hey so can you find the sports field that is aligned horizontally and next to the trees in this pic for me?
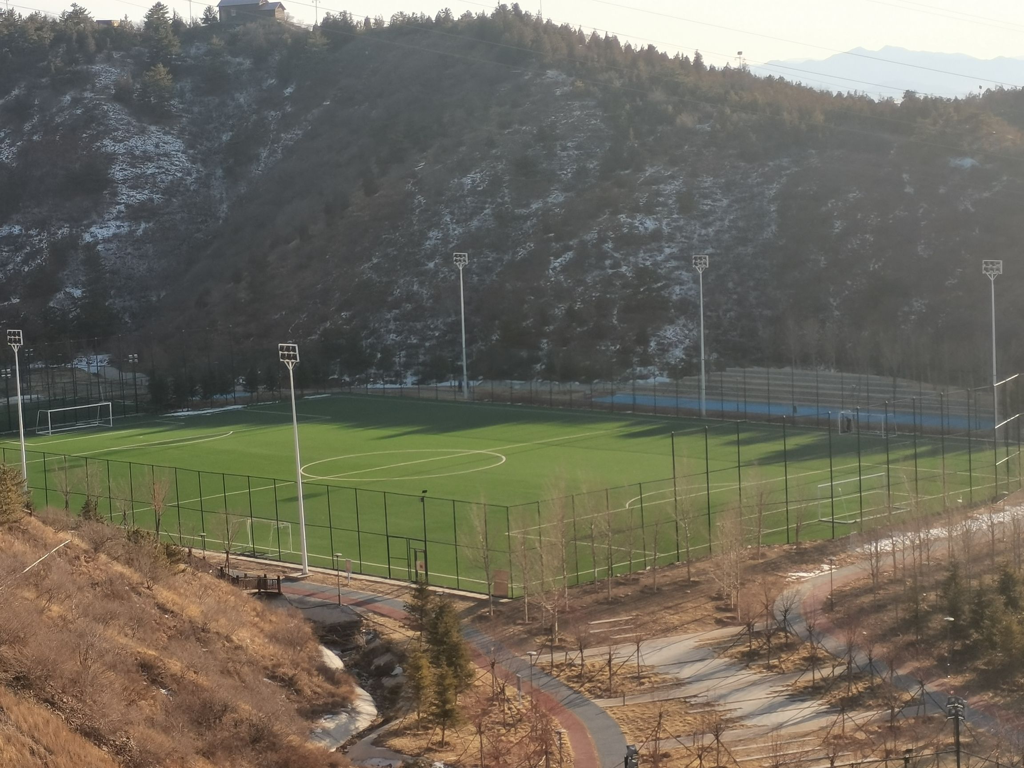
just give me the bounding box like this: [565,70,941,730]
[0,392,1024,597]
